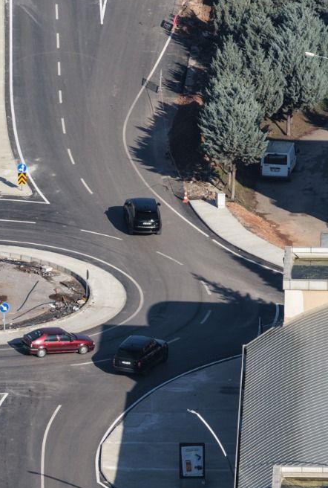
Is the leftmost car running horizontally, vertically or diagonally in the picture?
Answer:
horizontally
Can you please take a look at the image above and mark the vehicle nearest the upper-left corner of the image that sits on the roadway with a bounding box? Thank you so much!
[121,196,161,231]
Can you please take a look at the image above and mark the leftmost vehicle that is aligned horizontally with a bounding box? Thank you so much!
[20,325,97,357]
